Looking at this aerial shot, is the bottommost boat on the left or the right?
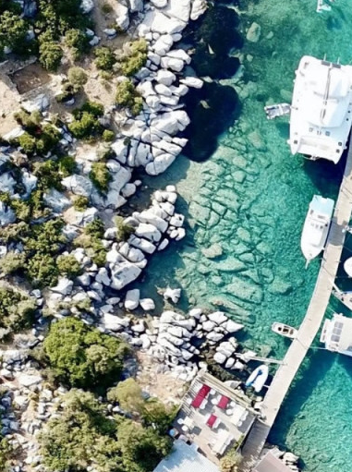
right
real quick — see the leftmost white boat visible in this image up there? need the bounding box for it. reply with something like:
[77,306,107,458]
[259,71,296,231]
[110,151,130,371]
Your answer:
[244,365,270,394]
